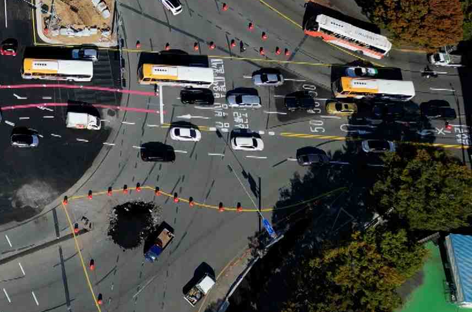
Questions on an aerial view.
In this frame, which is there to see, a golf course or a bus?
bus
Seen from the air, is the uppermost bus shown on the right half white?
Yes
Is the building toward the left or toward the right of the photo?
right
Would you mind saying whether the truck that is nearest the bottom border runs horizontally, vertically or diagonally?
diagonally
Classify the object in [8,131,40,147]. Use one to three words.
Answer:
car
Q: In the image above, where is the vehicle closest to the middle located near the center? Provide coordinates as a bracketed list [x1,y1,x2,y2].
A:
[231,137,264,152]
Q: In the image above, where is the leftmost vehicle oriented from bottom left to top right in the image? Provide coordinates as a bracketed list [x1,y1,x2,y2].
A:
[146,226,175,262]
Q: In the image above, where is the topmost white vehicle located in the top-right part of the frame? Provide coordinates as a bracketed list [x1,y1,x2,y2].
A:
[309,15,388,57]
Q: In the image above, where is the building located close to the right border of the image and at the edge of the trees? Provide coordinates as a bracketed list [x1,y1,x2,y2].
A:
[434,235,472,308]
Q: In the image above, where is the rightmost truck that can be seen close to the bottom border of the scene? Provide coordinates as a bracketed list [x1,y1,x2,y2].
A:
[183,274,218,308]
